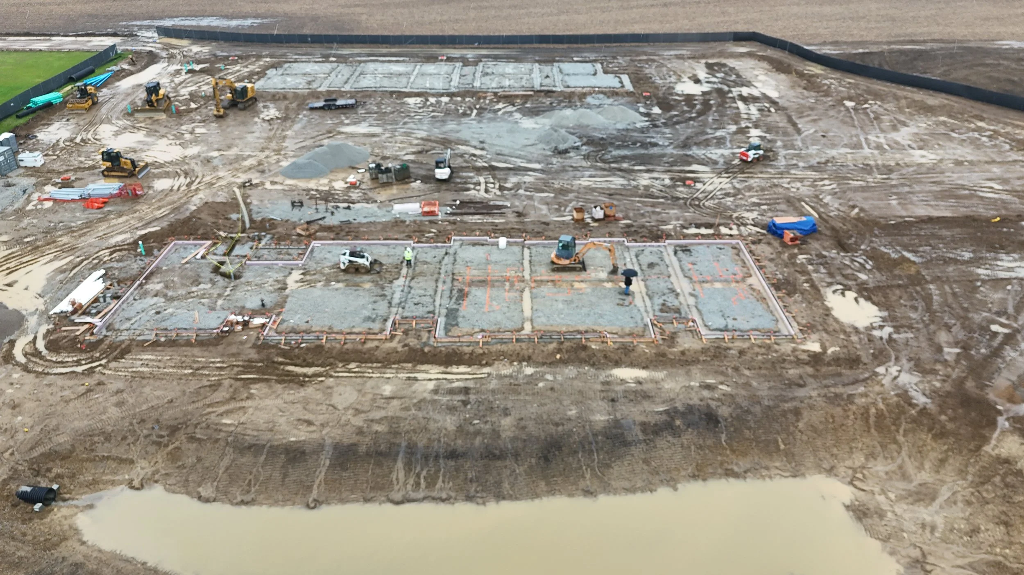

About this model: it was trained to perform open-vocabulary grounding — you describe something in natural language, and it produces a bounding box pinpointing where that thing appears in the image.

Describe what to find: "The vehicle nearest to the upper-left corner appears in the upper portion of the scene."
[62,78,109,112]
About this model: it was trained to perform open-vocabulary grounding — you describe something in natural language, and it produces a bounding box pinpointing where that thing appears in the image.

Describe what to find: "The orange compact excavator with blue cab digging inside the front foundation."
[551,231,621,273]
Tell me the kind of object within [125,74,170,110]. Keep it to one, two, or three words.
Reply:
work vehicle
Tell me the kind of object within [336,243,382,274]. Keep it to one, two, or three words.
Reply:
work vehicle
